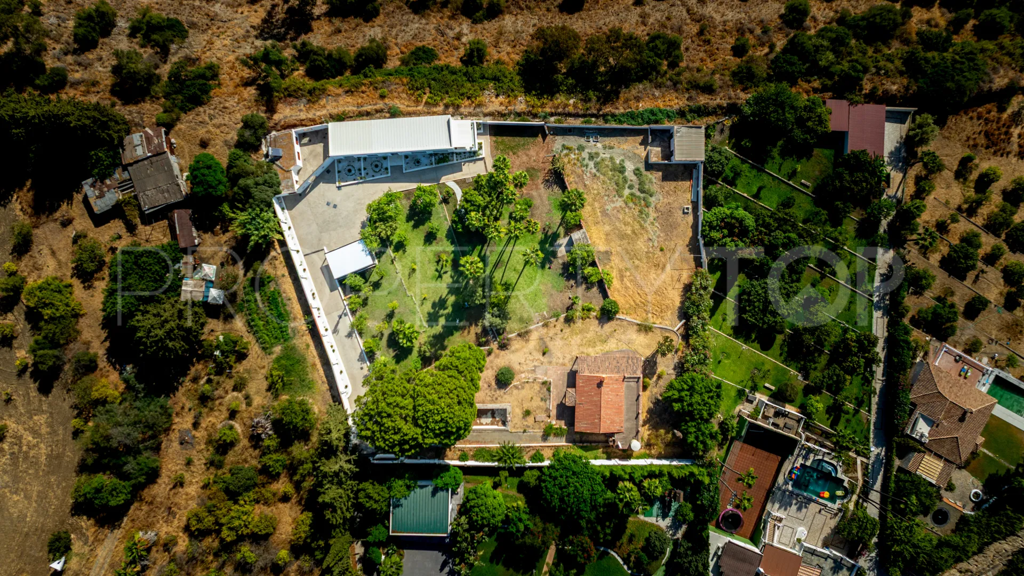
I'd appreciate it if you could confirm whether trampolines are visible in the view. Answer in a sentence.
Yes, you can see a trampoline in this photo.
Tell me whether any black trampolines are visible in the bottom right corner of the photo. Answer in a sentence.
Yes, looking in the bottom right corner of the photo, one can make out a black trampoline.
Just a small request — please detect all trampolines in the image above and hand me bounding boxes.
[931,506,950,525]
[719,509,743,532]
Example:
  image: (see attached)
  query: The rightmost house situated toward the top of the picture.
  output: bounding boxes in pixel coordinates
[823,100,886,158]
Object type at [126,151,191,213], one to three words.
shed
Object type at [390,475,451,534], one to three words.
building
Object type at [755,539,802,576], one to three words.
house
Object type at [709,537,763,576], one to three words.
house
